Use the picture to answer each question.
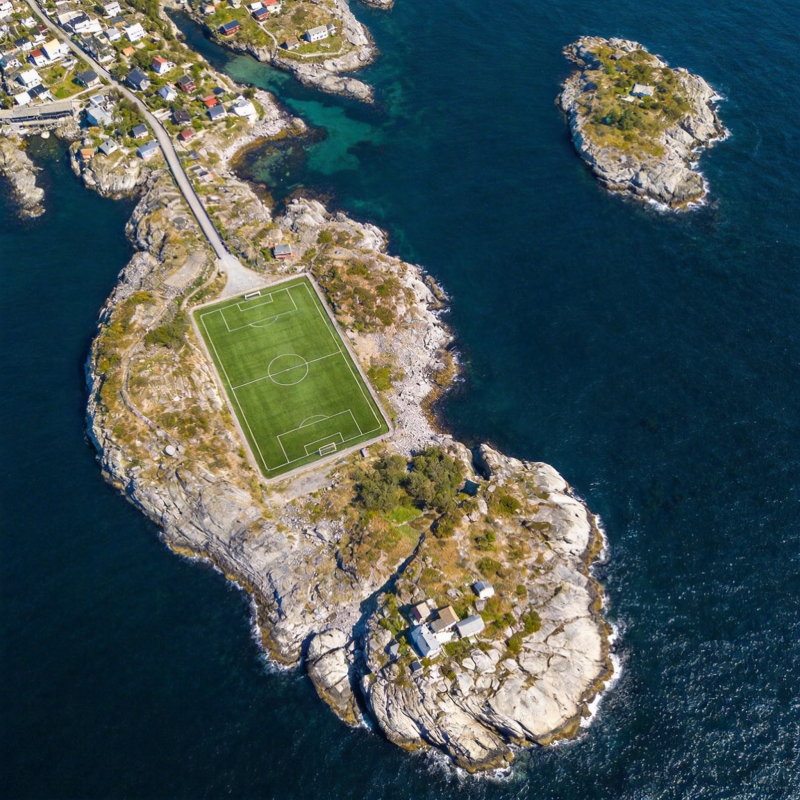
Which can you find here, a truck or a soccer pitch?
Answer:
soccer pitch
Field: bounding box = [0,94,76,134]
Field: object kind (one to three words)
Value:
building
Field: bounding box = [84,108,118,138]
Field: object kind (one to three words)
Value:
building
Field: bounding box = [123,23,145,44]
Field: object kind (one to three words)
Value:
house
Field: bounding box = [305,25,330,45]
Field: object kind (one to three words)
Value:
house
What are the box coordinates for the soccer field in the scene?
[191,273,395,484]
